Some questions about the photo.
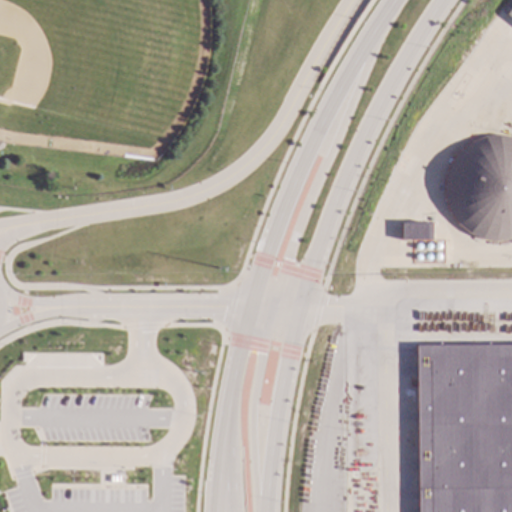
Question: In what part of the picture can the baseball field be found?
top left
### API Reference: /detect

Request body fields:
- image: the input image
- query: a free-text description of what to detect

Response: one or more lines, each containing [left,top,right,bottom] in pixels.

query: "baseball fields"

[0,0,213,160]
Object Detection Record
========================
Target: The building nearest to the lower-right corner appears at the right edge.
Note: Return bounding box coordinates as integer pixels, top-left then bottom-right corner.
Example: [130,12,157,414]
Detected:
[418,344,512,512]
